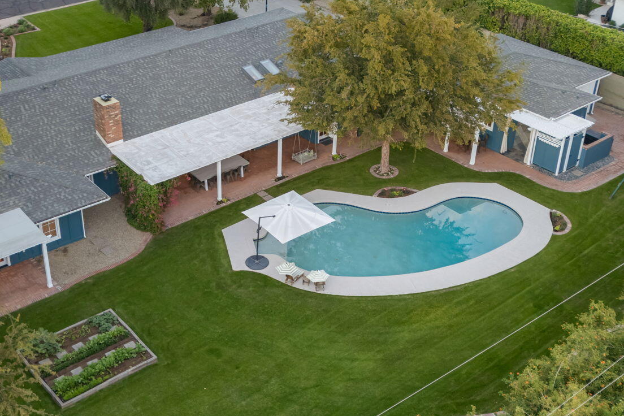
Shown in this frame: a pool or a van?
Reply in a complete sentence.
The image shows a pool.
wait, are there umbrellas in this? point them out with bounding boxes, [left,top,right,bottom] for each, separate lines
[272,254,302,278]
[240,185,339,267]
[304,266,332,280]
